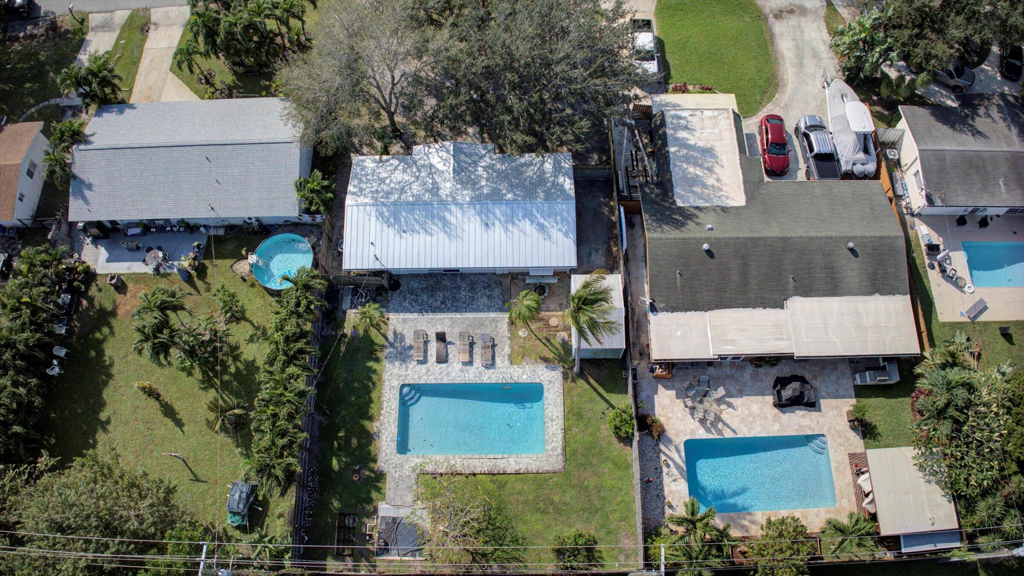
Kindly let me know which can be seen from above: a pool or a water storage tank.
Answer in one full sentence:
Looking from above, you can make out a pool.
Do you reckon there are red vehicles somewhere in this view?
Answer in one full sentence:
Yes, the frame does contain a red vehicle.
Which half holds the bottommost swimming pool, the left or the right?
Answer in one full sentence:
The bottommost swimming pool appears in the right half of the scene.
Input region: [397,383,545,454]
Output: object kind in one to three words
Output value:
swimming pool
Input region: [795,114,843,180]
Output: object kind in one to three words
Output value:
truck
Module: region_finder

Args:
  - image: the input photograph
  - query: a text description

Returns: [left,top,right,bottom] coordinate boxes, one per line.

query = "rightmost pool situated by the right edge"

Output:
[963,242,1024,286]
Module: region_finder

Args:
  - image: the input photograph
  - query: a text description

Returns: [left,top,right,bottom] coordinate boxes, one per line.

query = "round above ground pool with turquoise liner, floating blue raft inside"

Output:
[250,233,318,297]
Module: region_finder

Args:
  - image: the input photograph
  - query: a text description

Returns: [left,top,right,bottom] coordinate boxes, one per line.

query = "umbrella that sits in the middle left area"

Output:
[158,260,189,280]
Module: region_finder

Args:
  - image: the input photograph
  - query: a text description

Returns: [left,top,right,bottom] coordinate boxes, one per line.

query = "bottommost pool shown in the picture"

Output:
[685,434,836,513]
